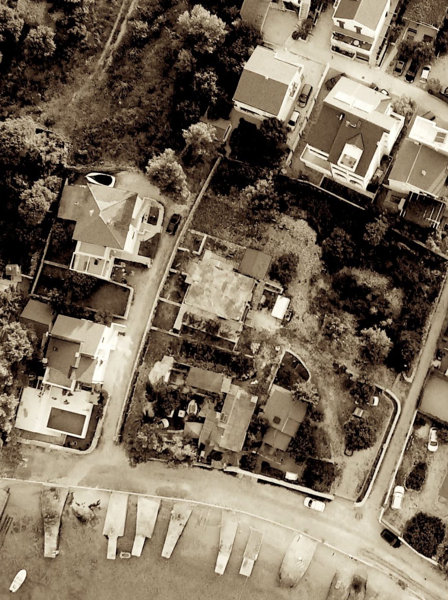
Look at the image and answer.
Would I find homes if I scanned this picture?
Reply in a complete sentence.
Yes, a home can be made out from above.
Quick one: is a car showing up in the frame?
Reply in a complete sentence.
Yes, there's a car here.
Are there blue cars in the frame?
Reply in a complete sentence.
No, I can see no blue car in this picture.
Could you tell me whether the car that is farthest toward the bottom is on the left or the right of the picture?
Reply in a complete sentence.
The car that is farthest toward the bottom is on the right side of the image.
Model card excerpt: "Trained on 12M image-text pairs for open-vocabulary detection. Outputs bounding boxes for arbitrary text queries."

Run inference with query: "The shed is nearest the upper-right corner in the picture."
[403,0,448,33]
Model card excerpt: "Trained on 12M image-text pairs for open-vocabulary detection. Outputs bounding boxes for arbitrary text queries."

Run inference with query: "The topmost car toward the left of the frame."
[166,212,183,238]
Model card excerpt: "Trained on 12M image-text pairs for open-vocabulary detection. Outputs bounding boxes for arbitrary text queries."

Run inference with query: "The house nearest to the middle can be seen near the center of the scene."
[173,251,264,341]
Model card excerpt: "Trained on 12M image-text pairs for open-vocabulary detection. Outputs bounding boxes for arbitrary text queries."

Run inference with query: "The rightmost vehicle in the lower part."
[427,426,440,453]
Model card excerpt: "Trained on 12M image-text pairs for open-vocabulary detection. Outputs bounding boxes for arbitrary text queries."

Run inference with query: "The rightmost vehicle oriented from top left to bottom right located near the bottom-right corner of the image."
[378,526,405,551]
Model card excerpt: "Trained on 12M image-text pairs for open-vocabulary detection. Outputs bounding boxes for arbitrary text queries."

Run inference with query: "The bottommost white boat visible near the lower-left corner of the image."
[8,569,26,594]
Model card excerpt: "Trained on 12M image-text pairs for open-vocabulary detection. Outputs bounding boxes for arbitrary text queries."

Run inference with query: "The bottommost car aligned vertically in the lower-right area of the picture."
[392,484,406,512]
